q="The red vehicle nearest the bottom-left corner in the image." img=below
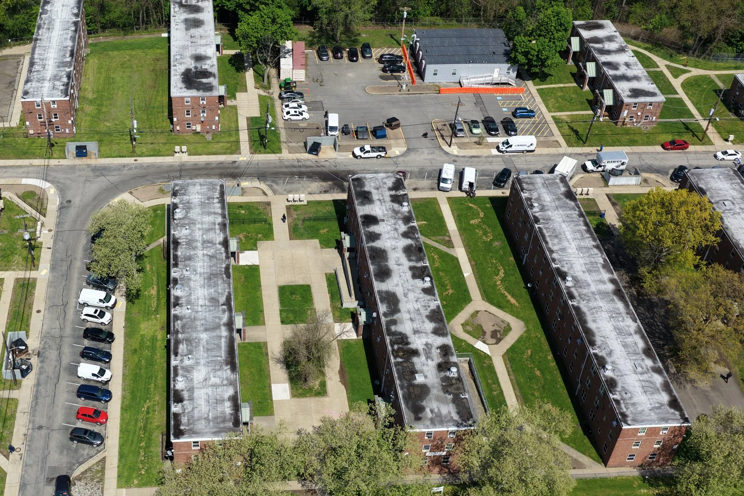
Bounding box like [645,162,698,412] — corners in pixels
[74,406,110,426]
